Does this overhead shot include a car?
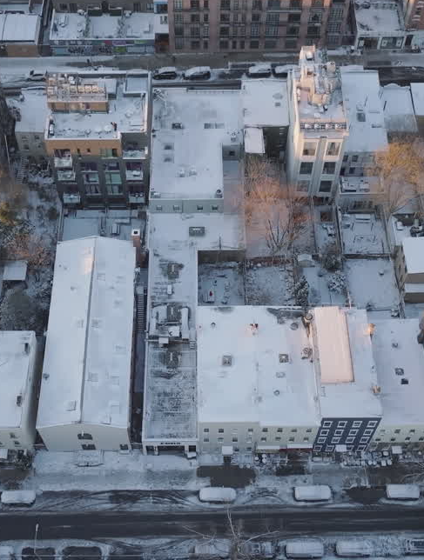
Yes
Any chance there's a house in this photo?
Yes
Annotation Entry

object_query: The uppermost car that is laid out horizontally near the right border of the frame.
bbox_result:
[381,482,423,501]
